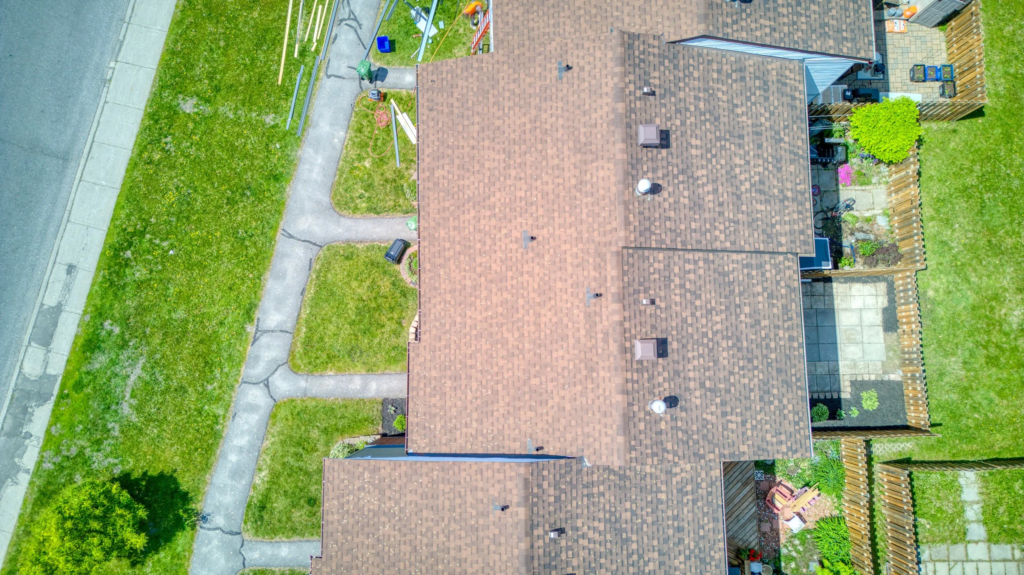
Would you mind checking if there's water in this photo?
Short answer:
No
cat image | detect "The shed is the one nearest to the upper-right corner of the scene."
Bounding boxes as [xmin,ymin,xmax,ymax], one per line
[909,0,977,31]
